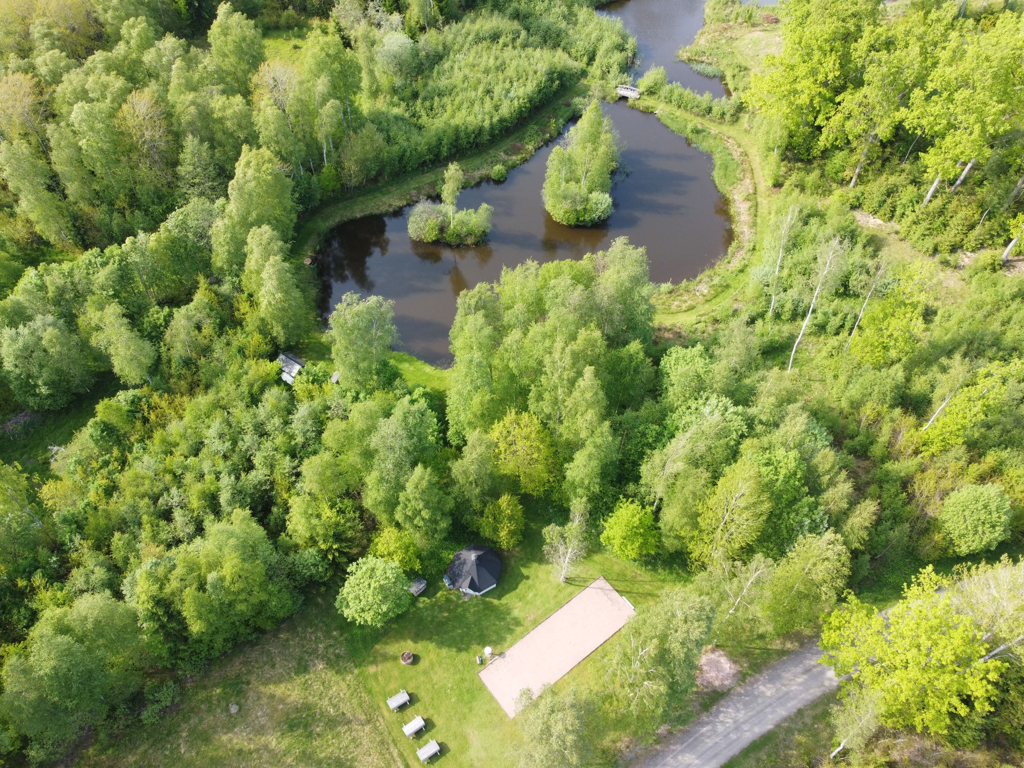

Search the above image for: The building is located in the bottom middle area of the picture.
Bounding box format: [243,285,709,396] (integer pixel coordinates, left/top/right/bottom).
[448,544,501,603]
